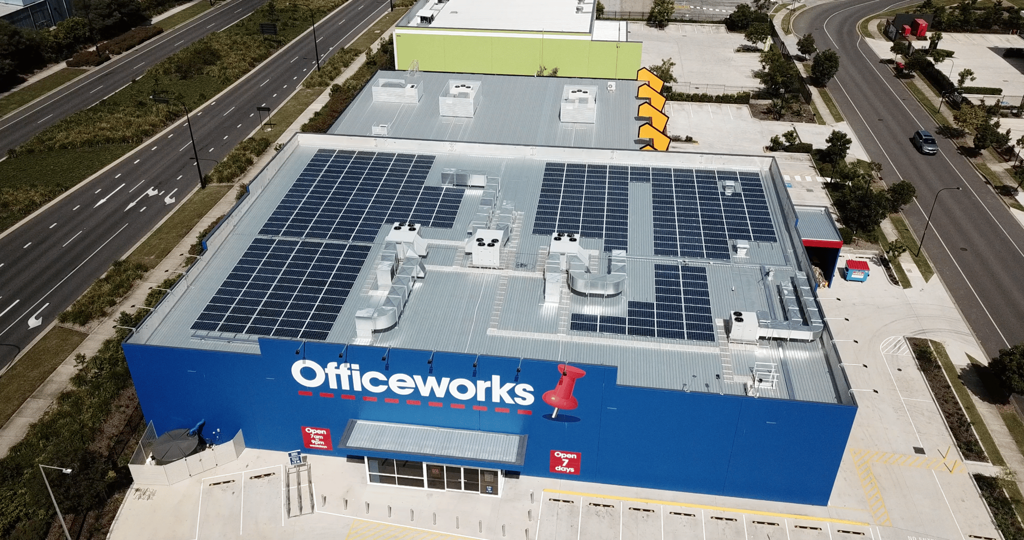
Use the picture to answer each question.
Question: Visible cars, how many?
1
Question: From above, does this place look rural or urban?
urban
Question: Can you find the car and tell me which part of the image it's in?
top right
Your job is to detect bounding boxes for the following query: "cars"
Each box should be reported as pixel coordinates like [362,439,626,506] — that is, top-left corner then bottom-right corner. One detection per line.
[914,129,939,152]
